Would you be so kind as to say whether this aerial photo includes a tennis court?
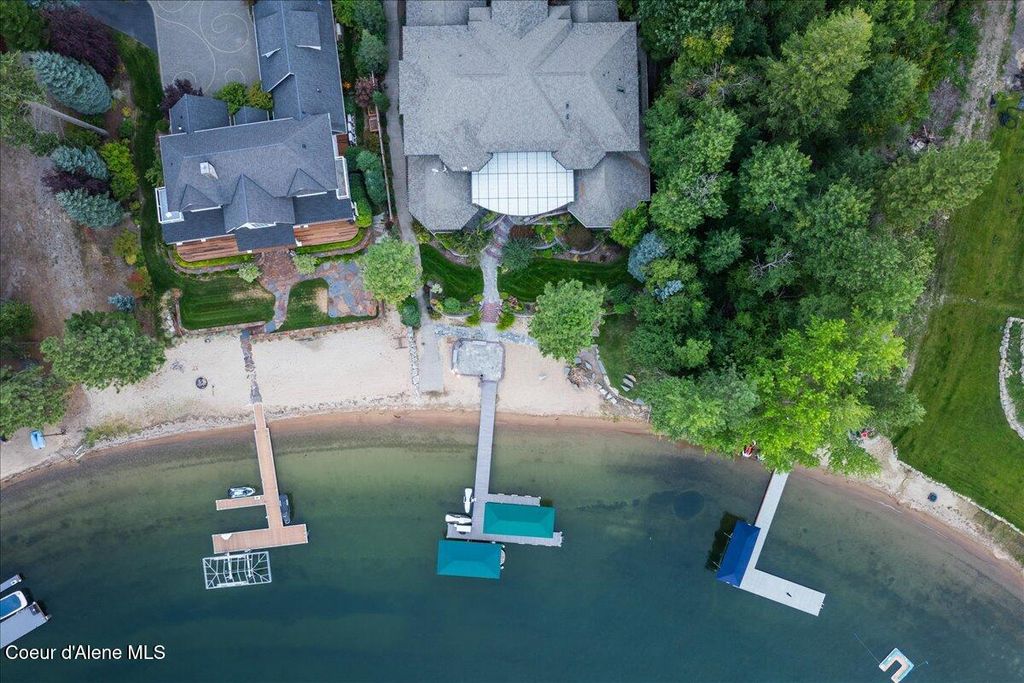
No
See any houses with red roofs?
No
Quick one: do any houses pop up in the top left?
Yes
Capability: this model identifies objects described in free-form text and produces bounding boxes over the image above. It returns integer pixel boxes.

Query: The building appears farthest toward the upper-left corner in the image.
[149,0,359,261]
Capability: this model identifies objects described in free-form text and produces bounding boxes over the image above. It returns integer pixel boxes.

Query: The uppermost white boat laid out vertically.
[460,487,473,515]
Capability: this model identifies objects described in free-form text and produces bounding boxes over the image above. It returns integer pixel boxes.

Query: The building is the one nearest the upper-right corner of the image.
[399,0,651,233]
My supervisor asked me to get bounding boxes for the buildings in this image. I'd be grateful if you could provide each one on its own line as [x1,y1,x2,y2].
[399,0,651,233]
[149,0,359,261]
